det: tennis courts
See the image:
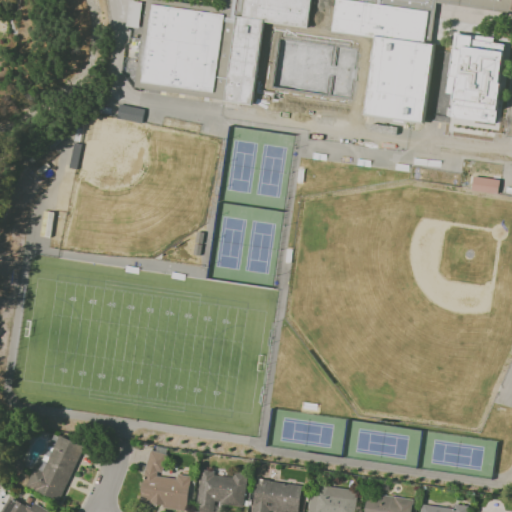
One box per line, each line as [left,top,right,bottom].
[346,420,425,468]
[207,200,255,284]
[422,432,499,479]
[222,126,264,205]
[268,408,348,457]
[242,206,288,289]
[255,130,298,210]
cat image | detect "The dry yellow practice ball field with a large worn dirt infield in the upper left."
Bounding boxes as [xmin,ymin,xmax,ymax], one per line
[66,116,221,262]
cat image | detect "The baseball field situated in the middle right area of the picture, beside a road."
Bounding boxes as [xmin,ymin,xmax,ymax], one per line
[290,188,512,428]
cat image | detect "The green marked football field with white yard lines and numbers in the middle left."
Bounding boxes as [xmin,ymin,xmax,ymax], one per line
[17,254,276,436]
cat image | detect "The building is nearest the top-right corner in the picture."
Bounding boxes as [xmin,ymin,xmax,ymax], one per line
[444,32,504,125]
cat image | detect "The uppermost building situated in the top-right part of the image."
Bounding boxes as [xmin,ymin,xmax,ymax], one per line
[330,0,430,42]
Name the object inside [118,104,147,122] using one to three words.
shed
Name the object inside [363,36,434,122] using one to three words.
building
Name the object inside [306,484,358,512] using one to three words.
house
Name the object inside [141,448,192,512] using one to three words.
house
